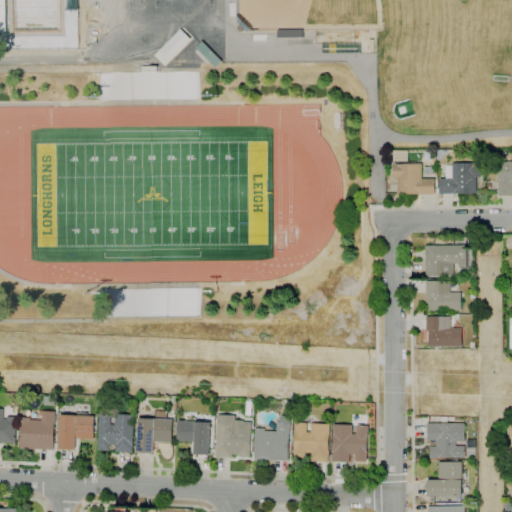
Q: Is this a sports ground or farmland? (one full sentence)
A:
The picture captures a sports ground.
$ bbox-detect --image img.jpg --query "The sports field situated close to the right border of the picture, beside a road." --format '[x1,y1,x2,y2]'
[380,0,512,132]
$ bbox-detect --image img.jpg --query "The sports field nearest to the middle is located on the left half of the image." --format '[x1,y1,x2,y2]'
[32,126,273,261]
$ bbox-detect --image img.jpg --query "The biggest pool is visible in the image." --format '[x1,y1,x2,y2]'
[257,411,278,426]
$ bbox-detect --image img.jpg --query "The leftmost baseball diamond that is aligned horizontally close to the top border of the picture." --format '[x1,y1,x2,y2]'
[239,0,376,28]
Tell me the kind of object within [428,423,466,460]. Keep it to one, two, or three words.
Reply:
house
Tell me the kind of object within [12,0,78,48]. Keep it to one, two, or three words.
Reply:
building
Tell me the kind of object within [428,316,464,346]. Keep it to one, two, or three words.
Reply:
house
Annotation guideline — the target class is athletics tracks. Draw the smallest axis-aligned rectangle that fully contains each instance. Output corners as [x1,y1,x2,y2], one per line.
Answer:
[0,103,344,284]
